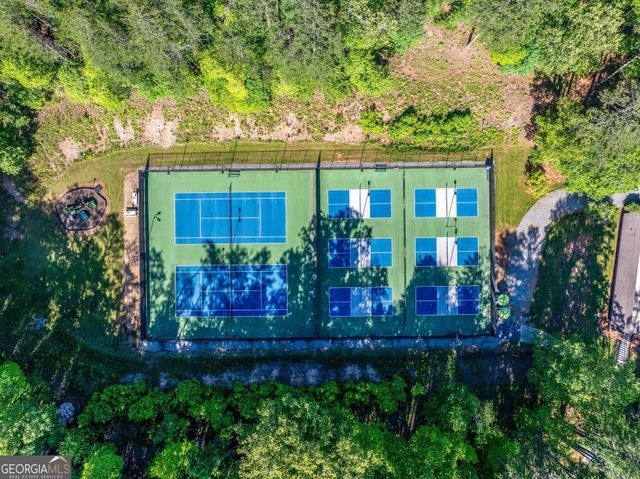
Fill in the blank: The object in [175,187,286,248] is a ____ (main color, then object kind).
blue tennis court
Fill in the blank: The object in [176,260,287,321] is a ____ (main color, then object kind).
blue tennis court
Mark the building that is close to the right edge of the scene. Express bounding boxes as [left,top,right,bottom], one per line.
[606,212,640,328]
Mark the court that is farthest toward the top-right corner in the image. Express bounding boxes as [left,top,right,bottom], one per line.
[415,186,478,218]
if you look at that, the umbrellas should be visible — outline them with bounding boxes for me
[498,306,510,318]
[496,294,509,306]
